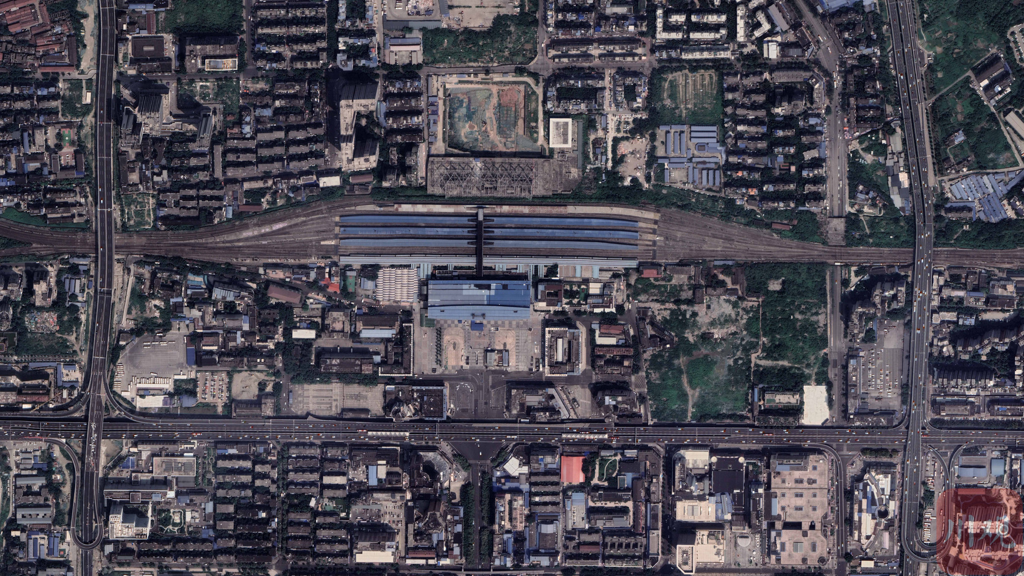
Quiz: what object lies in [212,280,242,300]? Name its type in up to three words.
shed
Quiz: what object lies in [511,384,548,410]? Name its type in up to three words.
building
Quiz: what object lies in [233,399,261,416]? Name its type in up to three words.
shed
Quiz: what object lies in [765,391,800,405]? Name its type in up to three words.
building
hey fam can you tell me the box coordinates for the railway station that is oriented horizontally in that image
[428,278,531,320]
